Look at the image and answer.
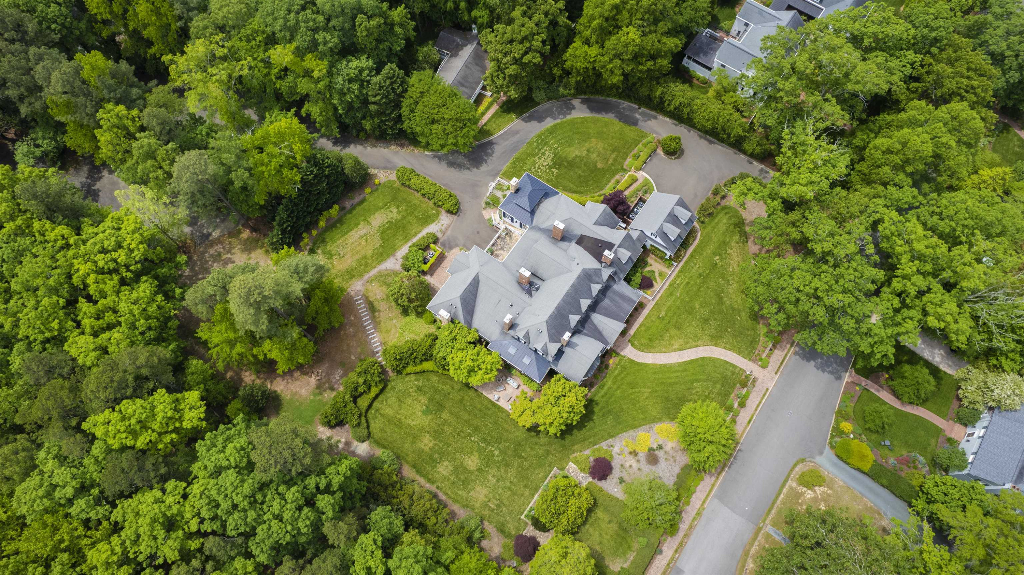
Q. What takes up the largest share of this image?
trees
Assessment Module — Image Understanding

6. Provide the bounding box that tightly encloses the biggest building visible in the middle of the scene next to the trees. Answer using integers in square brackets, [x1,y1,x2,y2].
[426,172,648,381]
